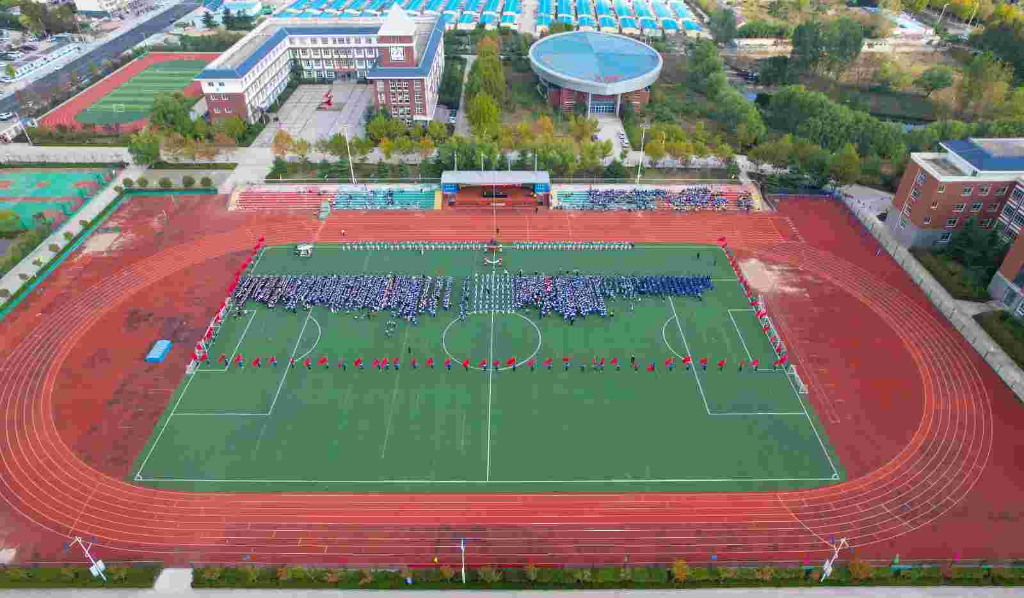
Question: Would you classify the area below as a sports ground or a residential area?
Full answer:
This image shows a sports ground.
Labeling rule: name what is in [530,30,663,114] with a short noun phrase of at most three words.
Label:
building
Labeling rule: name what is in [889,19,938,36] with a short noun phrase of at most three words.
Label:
building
